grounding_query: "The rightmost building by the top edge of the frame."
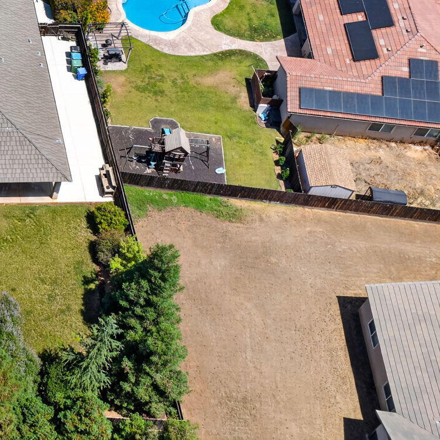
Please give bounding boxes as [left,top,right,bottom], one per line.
[273,0,440,144]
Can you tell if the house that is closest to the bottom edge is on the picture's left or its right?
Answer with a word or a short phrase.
right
